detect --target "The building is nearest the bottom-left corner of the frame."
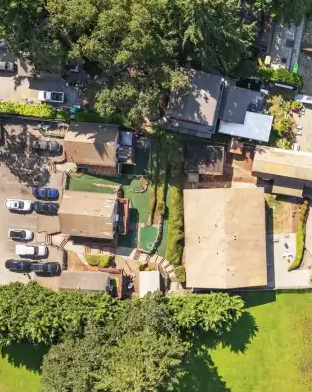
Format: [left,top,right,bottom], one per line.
[59,270,112,294]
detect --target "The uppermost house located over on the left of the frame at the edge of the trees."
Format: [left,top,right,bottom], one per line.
[63,122,121,166]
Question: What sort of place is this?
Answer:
residential area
